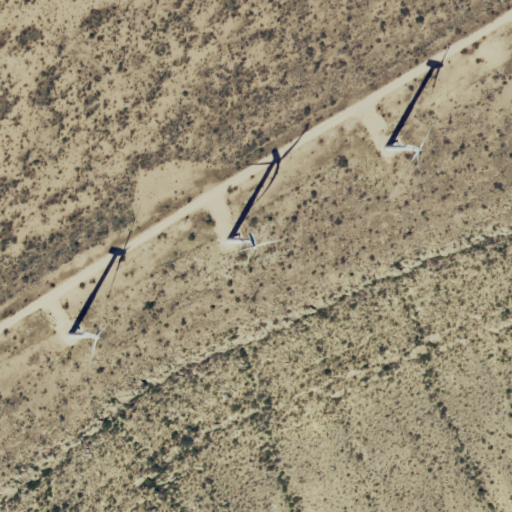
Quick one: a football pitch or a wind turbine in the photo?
wind turbine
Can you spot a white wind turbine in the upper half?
Yes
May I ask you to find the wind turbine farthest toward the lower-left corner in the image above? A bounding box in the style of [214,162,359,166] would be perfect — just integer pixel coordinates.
[64,307,104,370]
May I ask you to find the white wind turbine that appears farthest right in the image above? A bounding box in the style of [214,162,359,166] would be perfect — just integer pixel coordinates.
[382,118,432,179]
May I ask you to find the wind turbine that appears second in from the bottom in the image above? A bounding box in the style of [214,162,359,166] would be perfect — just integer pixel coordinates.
[222,233,286,260]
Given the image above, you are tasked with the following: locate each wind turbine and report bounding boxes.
[64,307,104,370]
[222,233,286,260]
[382,118,432,179]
